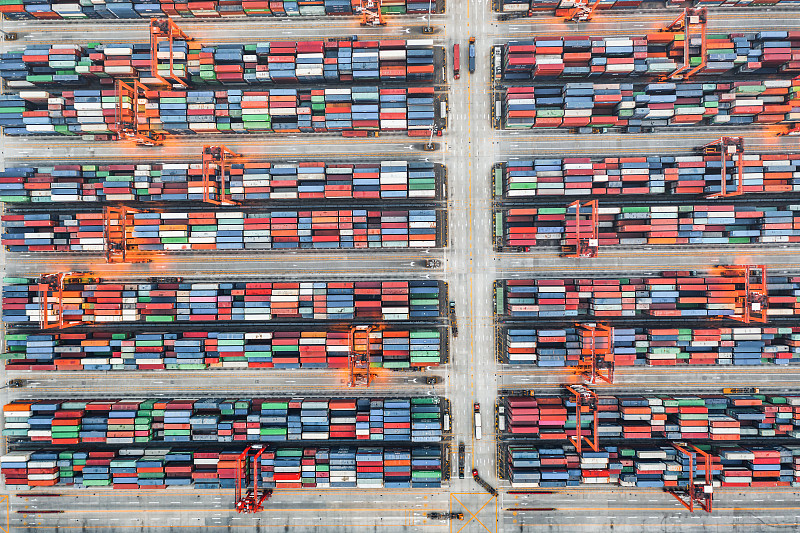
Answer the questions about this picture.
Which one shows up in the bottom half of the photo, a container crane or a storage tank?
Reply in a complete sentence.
There is a container crane in the bottom half of the photo.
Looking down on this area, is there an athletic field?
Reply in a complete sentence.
No, I can't see a single athletic field in this photo.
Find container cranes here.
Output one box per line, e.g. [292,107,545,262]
[234,442,274,515]
[149,16,197,89]
[202,144,244,206]
[573,324,615,387]
[114,78,165,145]
[559,385,598,453]
[691,137,745,200]
[102,206,153,264]
[712,266,769,324]
[558,200,599,259]
[355,0,391,24]
[662,440,712,513]
[37,273,96,331]
[345,326,380,388]
[657,5,709,81]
